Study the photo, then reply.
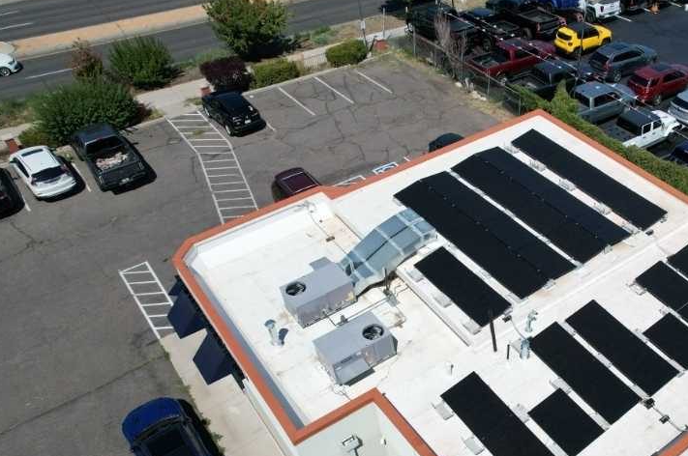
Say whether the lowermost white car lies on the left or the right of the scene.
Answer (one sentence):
The lowermost white car appears in the left half of the scene.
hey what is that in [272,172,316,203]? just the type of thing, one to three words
car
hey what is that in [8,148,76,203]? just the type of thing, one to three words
car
